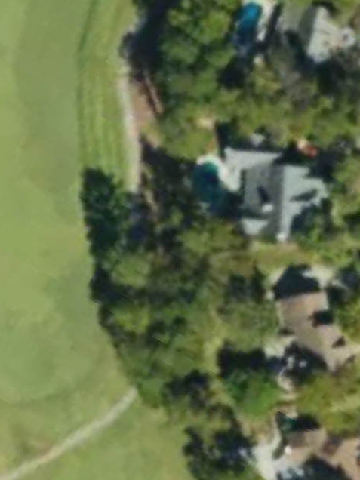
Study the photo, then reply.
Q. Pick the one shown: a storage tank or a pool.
pool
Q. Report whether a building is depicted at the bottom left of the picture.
No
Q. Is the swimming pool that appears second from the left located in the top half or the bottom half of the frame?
top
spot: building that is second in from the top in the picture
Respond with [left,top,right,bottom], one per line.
[223,145,334,246]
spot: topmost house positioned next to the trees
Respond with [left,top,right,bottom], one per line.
[267,0,360,70]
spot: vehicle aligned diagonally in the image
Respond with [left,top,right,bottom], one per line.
[303,144,321,157]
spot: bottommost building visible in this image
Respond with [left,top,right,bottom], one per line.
[280,423,360,480]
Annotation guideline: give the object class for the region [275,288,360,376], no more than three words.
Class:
house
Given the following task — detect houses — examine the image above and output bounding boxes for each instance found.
[223,145,334,246]
[267,0,360,70]
[280,423,360,480]
[275,288,360,376]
